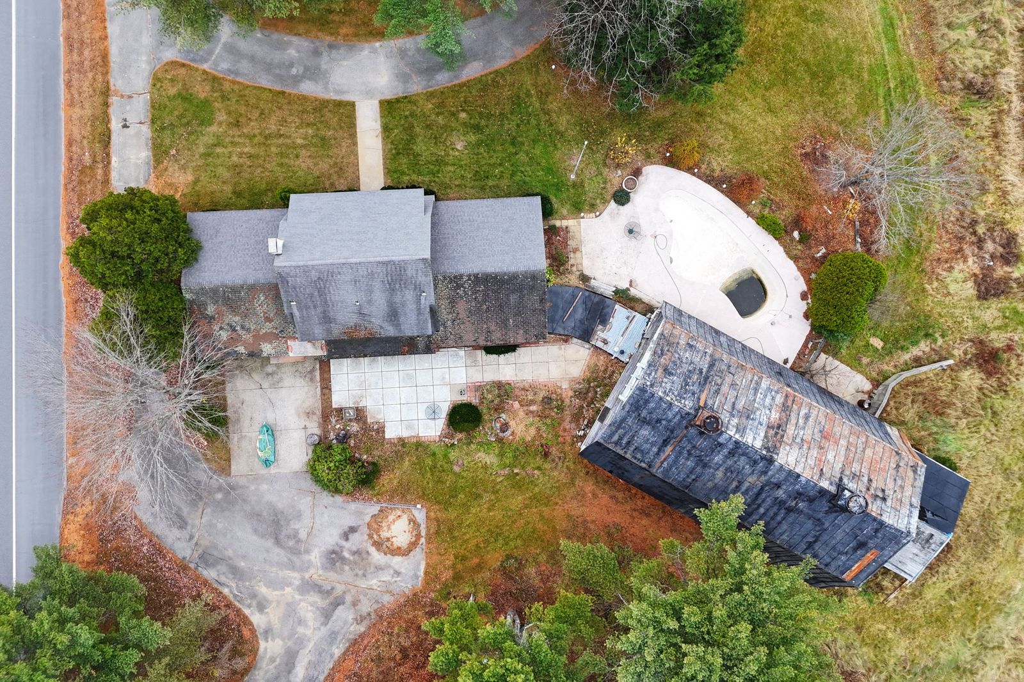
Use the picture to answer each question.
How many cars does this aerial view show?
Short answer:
0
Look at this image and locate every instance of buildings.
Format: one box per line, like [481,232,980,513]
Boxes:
[579,302,971,585]
[181,188,548,364]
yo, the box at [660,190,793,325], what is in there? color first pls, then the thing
white swimming pool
